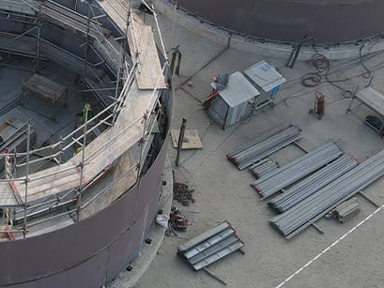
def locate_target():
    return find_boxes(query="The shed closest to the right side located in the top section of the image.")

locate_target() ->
[243,61,287,111]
